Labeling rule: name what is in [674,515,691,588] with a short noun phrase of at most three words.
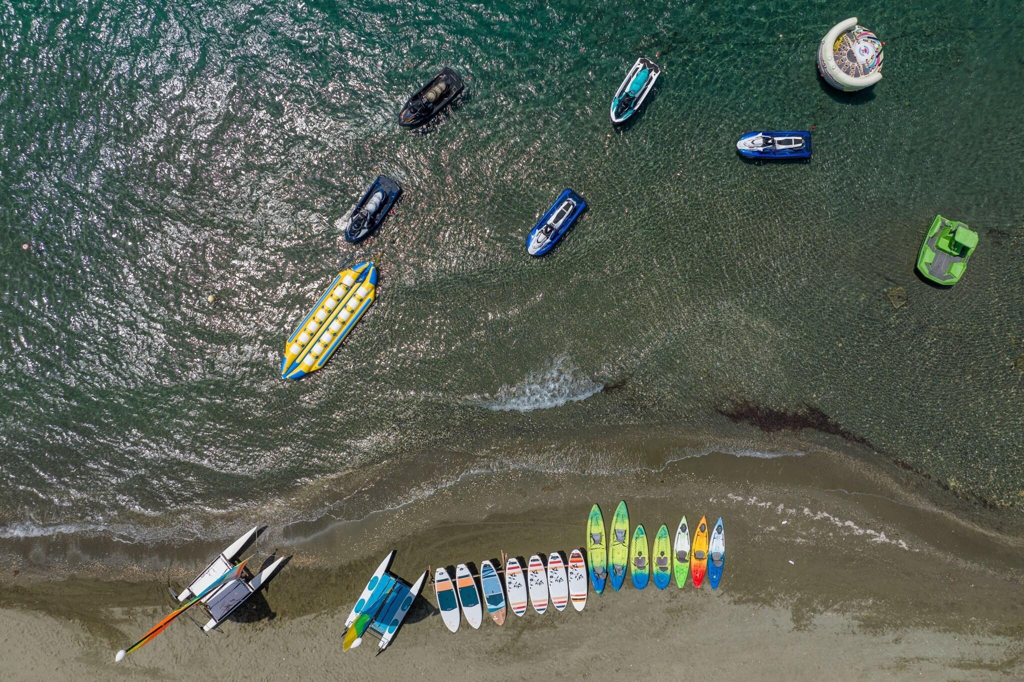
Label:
boat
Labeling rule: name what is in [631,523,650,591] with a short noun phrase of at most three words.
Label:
boat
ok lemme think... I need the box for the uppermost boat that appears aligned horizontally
[736,131,811,160]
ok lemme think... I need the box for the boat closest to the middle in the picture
[530,191,586,255]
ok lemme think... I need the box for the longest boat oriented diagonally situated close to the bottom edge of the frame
[113,524,286,663]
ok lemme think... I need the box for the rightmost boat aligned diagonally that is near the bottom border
[337,548,426,662]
